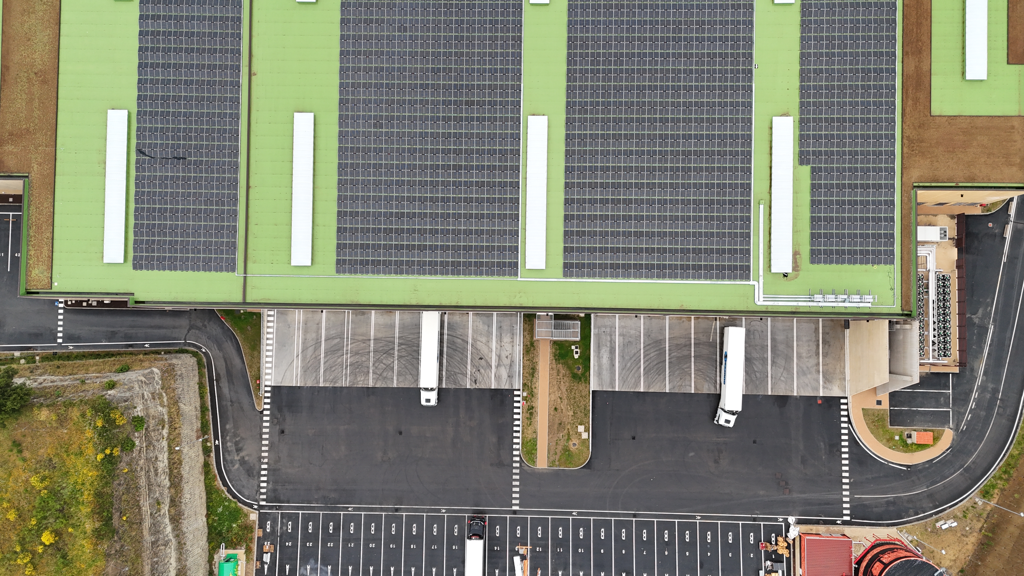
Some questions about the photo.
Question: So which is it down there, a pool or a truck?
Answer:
truck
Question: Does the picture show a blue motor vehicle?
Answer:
No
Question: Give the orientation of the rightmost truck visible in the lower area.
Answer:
vertically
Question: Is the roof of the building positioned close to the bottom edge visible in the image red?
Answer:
Yes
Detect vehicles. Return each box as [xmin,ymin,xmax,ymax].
[712,327,745,430]
[419,312,441,406]
[466,512,486,576]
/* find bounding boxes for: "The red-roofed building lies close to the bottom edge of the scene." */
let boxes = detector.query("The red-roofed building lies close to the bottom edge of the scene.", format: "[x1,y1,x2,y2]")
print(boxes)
[799,533,854,576]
